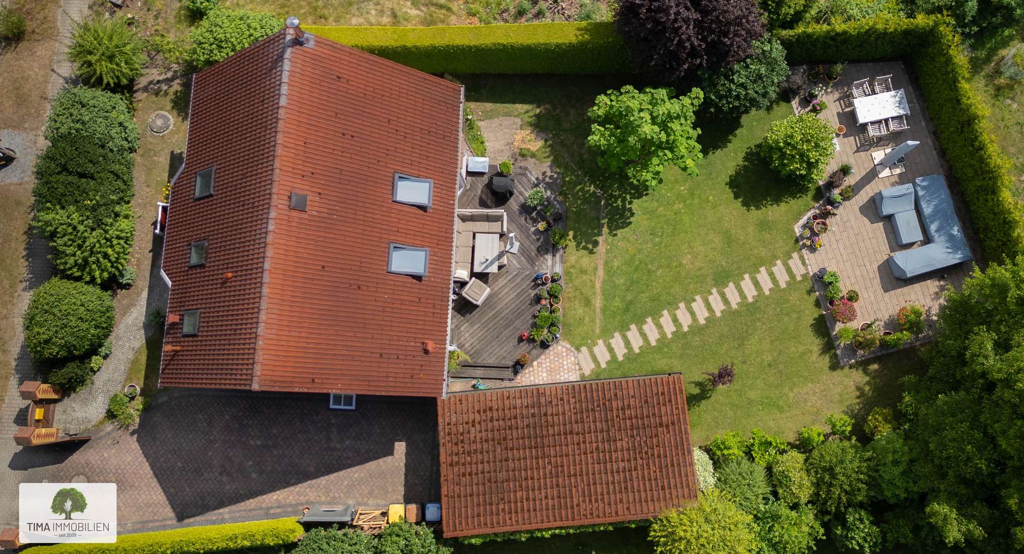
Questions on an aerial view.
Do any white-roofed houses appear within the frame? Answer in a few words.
No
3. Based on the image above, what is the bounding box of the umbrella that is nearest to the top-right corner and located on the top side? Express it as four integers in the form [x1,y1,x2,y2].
[872,144,919,176]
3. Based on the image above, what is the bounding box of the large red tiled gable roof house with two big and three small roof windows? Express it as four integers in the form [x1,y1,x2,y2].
[153,16,472,411]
